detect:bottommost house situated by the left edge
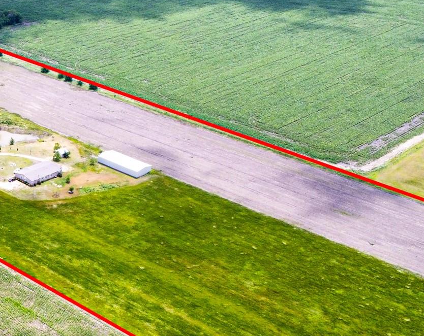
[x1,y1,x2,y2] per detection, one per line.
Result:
[10,158,64,185]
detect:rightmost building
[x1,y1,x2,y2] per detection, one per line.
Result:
[99,146,155,178]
